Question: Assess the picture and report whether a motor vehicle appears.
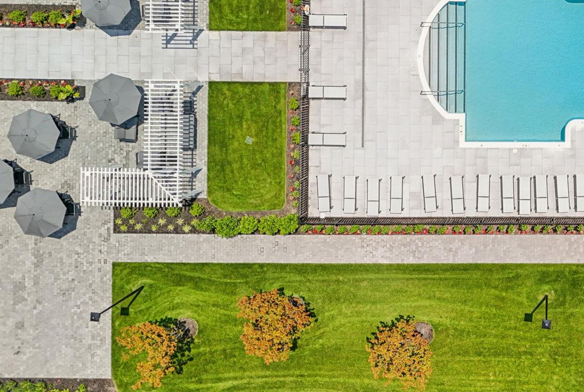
No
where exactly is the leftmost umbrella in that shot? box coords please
[0,157,19,202]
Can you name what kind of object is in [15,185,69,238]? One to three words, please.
umbrella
